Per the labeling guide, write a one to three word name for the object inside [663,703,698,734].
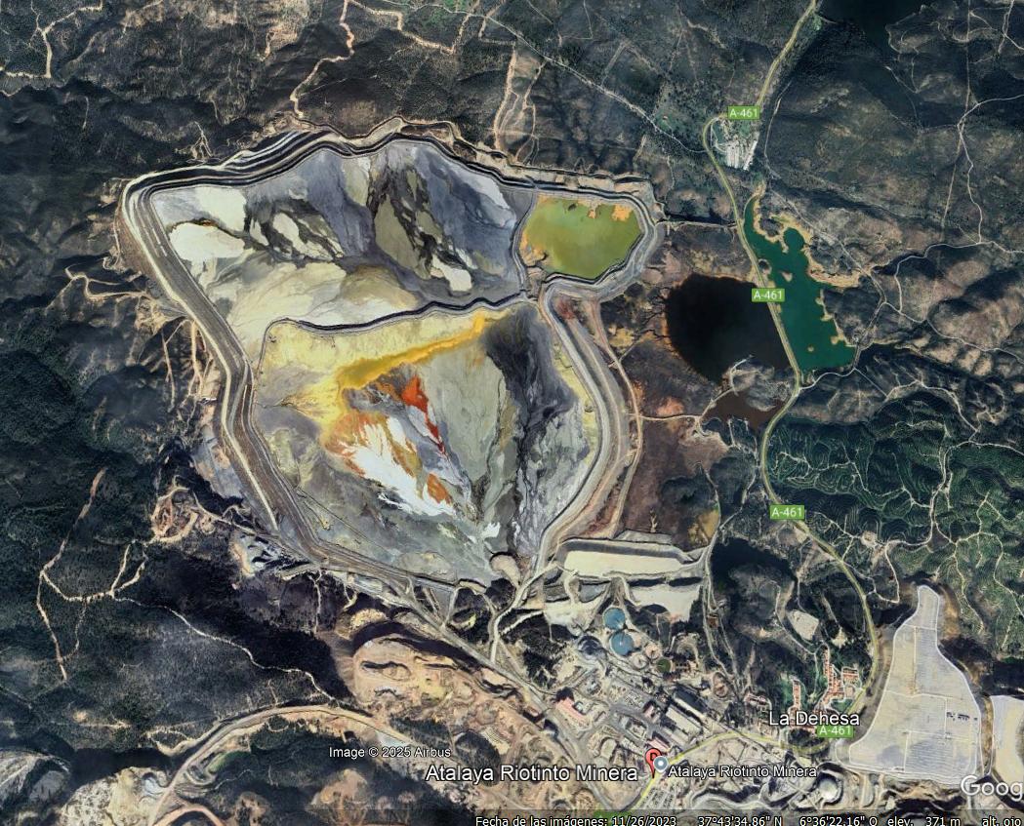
building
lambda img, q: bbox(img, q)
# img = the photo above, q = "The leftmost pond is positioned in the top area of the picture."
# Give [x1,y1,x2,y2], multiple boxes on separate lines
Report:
[523,197,640,278]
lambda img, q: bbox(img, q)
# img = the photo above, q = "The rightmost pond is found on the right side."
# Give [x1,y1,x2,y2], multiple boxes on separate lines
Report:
[745,202,852,367]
